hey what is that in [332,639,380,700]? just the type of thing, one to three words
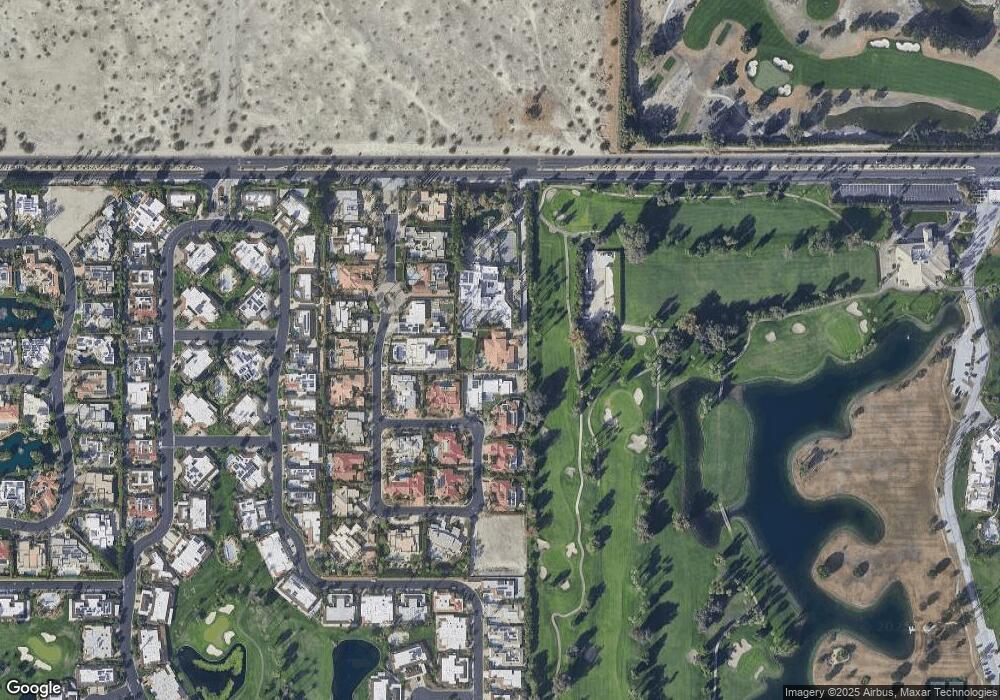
pond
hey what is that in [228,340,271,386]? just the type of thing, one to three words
house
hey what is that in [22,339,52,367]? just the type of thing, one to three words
house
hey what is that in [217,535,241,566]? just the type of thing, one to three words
swimming pool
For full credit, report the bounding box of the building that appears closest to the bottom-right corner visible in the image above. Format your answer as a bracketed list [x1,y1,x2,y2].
[967,418,1000,512]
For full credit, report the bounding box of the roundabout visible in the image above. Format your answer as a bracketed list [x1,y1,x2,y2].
[372,281,411,315]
